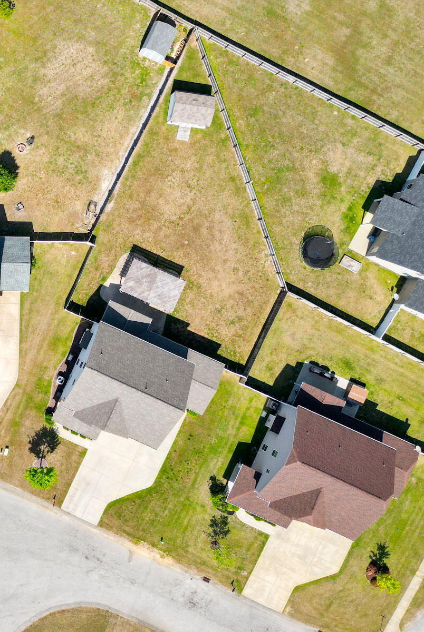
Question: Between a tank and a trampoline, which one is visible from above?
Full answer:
There is a trampoline in the scene.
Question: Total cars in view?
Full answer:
There are no cars in this view.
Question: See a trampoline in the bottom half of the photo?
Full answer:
No, no trampoline is visible in the bottom half of the photo.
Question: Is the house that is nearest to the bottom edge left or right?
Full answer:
The house that is nearest to the bottom edge appears in the right half of the scene.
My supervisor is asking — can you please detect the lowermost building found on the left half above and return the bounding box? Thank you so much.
[51,300,225,451]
